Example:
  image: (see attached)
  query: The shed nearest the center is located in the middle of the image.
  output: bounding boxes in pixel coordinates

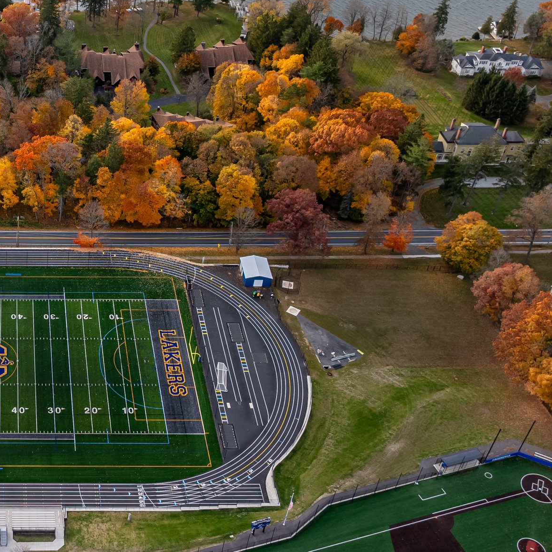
[239,254,274,286]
